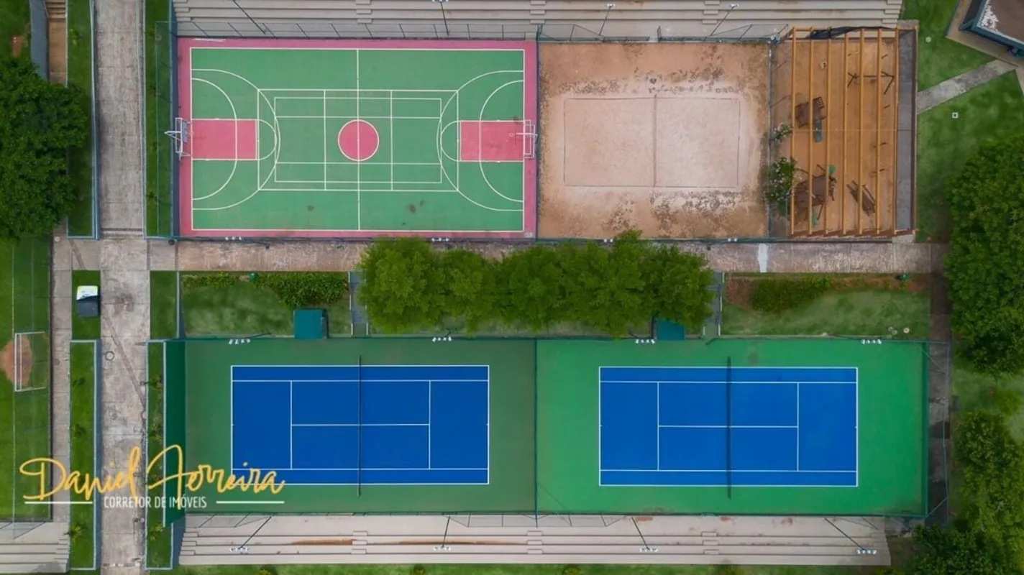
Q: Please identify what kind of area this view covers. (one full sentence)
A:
This looks like a sports ground.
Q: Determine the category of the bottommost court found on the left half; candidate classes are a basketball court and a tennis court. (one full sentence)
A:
The bottommost court found on the left half is a tennis court.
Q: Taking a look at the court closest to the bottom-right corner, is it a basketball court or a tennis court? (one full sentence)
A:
It looks like the court closest to the bottom-right corner is a tennis court.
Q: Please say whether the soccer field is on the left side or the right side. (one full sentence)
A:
The soccer field appears in the left half of the scene.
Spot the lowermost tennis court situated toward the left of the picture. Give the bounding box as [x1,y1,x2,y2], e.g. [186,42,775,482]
[185,339,536,513]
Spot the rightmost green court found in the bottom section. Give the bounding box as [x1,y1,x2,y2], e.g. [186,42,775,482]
[538,340,926,516]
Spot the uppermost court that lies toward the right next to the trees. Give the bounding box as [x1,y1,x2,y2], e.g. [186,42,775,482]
[540,41,769,238]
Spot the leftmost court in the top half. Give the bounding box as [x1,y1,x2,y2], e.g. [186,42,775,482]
[178,38,537,237]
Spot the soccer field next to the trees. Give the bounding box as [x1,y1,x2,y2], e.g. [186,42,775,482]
[0,233,50,520]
